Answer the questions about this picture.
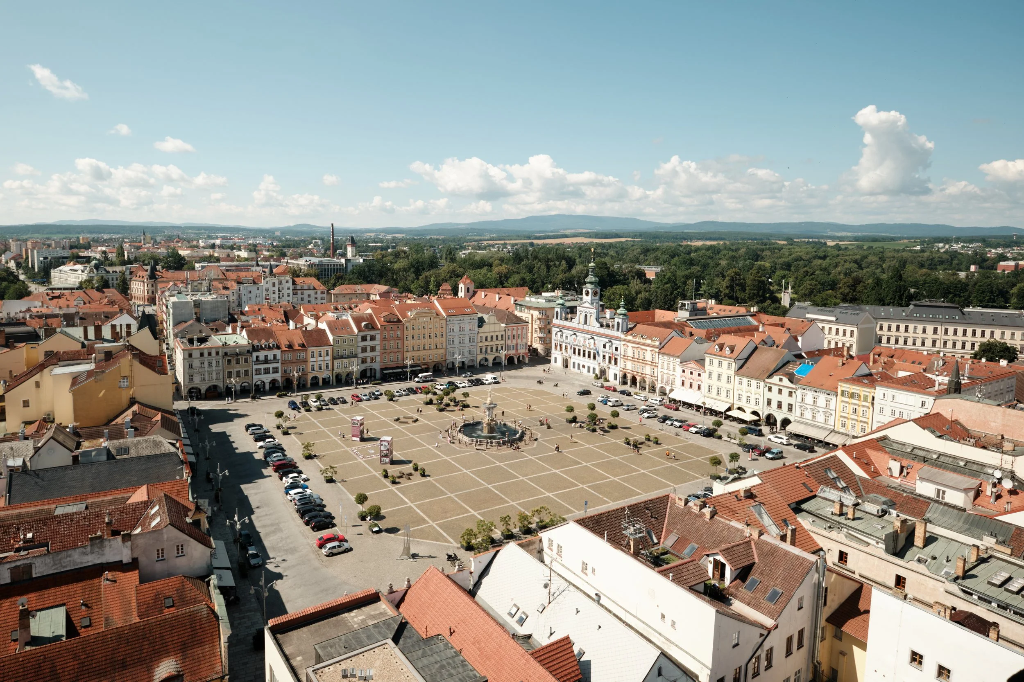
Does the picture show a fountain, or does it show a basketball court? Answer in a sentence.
Visible in the photo is a fountain.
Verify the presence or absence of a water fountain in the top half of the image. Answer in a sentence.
No, I see no water fountain in the top half of the image.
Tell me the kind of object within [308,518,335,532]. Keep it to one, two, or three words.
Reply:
car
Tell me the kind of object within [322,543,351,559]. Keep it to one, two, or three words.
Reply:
car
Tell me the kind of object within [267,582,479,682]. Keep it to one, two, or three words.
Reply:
house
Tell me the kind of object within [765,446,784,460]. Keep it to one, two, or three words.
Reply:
vehicle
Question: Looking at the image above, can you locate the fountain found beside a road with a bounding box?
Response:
[455,387,523,442]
